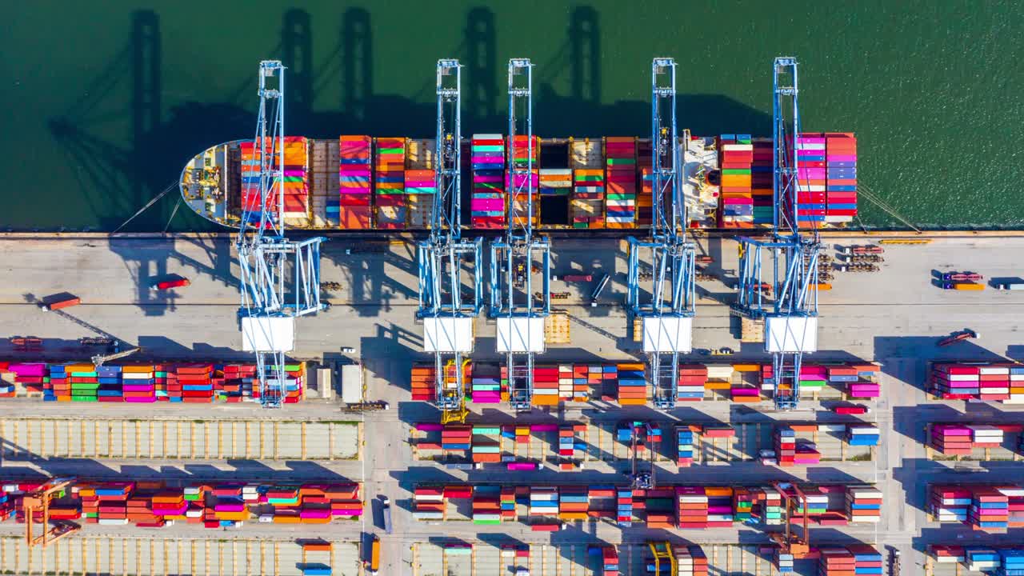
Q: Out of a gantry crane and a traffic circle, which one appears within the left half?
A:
gantry crane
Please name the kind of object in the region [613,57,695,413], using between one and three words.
container crane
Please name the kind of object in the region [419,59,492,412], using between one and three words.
container crane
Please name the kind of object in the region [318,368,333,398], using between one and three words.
shed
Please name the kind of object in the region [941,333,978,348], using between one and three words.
vehicle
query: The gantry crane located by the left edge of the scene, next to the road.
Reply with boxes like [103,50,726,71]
[24,476,79,547]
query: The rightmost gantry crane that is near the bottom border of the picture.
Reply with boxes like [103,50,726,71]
[767,483,809,561]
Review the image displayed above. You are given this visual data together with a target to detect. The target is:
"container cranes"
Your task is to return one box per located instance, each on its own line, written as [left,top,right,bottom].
[443,354,472,424]
[488,58,554,412]
[644,541,676,576]
[613,57,695,413]
[233,60,338,411]
[718,57,831,413]
[623,421,656,495]
[767,483,809,561]
[24,476,79,547]
[419,59,492,412]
